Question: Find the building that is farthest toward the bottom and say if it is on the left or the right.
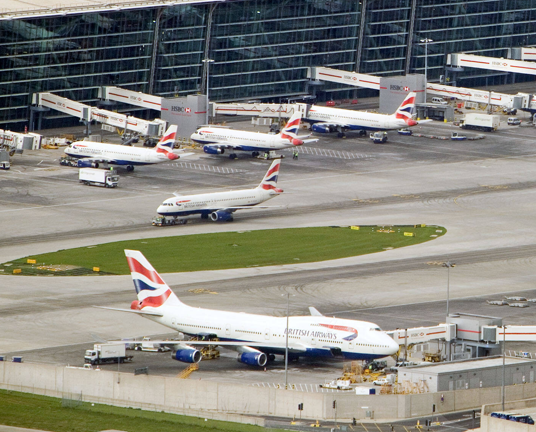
right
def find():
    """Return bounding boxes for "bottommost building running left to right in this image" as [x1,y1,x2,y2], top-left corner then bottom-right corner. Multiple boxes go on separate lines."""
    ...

[403,354,536,392]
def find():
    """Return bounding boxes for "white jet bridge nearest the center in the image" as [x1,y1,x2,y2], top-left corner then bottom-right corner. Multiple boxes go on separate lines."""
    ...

[204,102,312,135]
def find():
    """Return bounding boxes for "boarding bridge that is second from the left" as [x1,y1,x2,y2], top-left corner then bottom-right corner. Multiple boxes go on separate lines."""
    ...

[100,105,174,147]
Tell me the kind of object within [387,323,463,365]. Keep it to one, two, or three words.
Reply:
jet bridge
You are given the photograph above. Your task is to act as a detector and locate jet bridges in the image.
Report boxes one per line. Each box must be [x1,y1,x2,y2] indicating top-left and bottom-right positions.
[387,323,463,365]
[419,83,536,119]
[204,102,312,135]
[0,130,42,161]
[100,105,174,147]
